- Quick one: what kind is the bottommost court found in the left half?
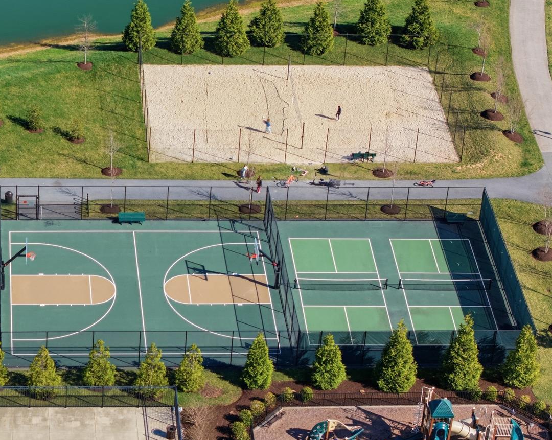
basketball court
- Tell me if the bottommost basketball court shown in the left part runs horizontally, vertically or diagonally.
horizontally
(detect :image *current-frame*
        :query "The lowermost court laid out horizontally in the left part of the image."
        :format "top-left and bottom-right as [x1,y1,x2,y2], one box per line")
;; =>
[9,231,281,354]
